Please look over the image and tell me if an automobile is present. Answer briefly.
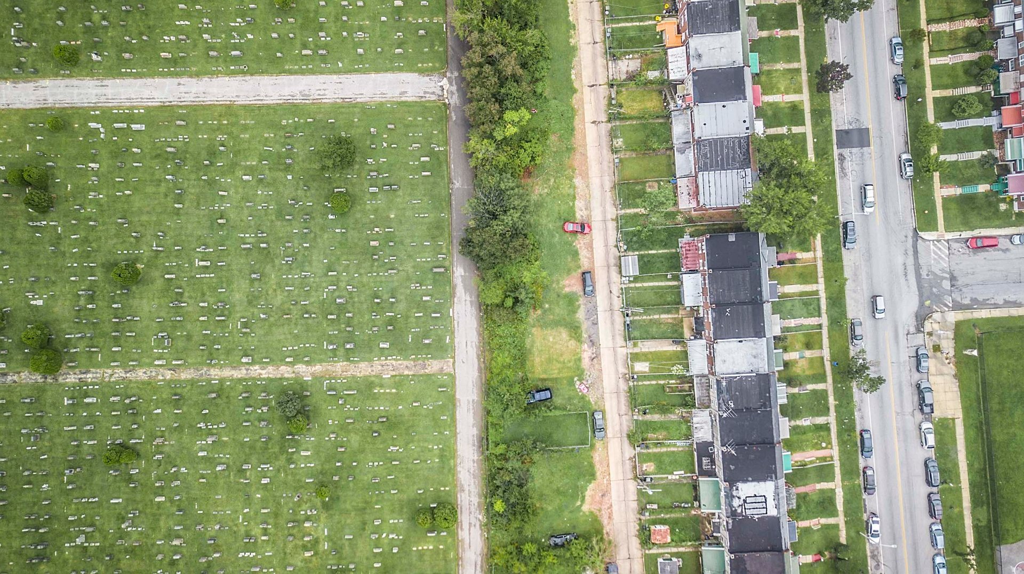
Yes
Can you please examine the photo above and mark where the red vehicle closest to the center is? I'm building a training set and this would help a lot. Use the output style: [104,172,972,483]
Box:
[561,221,591,235]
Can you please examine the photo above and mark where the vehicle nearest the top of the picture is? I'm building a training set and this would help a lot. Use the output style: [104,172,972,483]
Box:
[888,36,904,66]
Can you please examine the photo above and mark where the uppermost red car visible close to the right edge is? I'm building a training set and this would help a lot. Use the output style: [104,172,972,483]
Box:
[966,236,999,250]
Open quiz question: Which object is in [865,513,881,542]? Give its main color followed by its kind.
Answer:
white car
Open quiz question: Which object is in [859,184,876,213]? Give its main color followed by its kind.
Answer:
white car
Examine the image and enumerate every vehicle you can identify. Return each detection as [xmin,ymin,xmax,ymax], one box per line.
[859,184,876,213]
[931,551,947,574]
[928,520,944,551]
[861,465,876,495]
[913,345,929,375]
[525,387,555,404]
[592,409,606,439]
[923,457,939,487]
[888,36,904,66]
[581,269,596,298]
[561,221,591,235]
[916,380,933,414]
[865,513,881,542]
[849,316,864,346]
[925,490,943,521]
[858,428,873,458]
[897,151,913,181]
[870,294,886,321]
[917,420,934,450]
[841,220,857,249]
[966,236,999,250]
[891,74,907,101]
